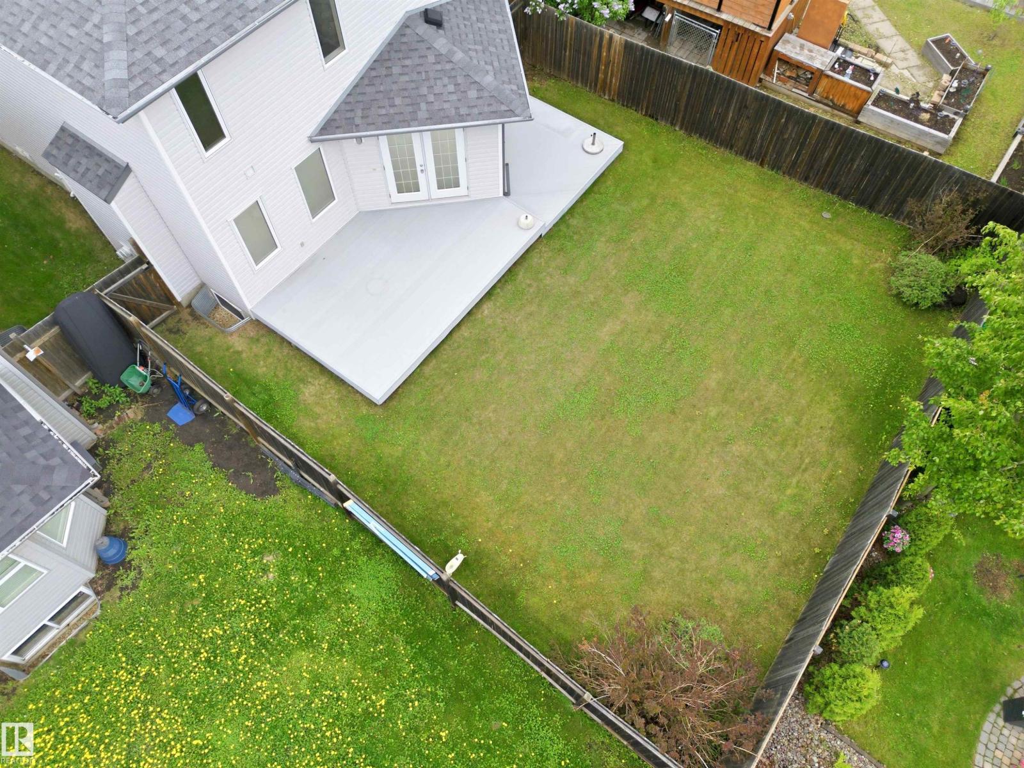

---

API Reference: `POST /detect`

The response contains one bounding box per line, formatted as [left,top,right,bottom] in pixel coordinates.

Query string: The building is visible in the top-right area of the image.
[763,32,837,98]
